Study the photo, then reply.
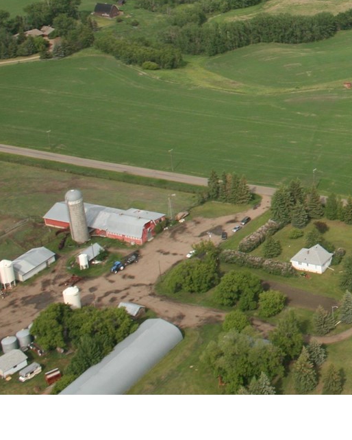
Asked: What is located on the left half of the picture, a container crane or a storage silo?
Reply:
storage silo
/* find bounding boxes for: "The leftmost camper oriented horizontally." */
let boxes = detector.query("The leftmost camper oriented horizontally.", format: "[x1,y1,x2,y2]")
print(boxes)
[17,363,41,377]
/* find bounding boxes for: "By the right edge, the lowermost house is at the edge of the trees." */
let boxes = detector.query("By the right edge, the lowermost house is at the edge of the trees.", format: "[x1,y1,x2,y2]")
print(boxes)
[289,242,337,273]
